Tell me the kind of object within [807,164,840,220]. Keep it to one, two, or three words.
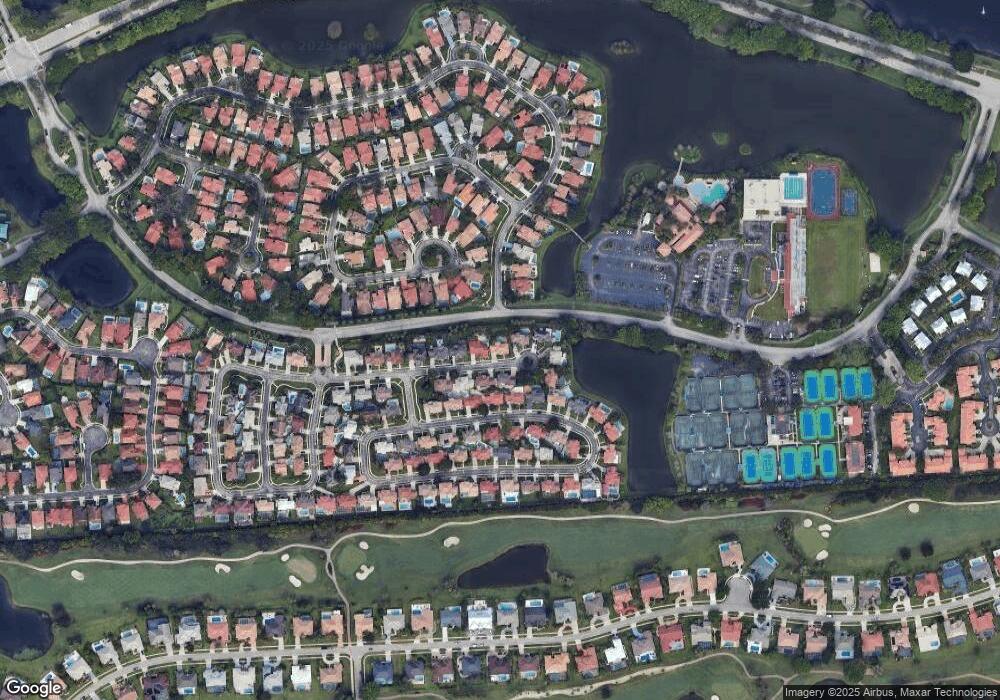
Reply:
sports court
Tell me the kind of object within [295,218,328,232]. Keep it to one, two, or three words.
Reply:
house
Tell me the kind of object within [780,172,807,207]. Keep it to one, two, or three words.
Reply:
swimming pool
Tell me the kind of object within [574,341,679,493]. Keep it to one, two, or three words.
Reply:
pond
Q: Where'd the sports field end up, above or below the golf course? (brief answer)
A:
above it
